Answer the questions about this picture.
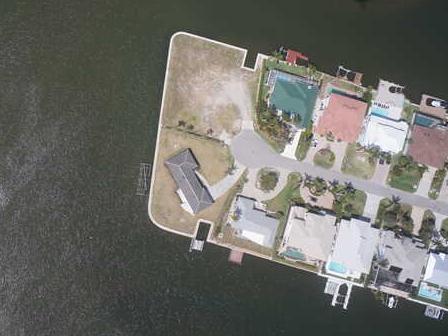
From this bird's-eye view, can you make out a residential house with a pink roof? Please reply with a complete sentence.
Yes, a residential house with a pink roof appears in the view.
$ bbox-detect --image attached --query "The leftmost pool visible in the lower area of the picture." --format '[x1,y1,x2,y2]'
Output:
[287,248,308,262]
